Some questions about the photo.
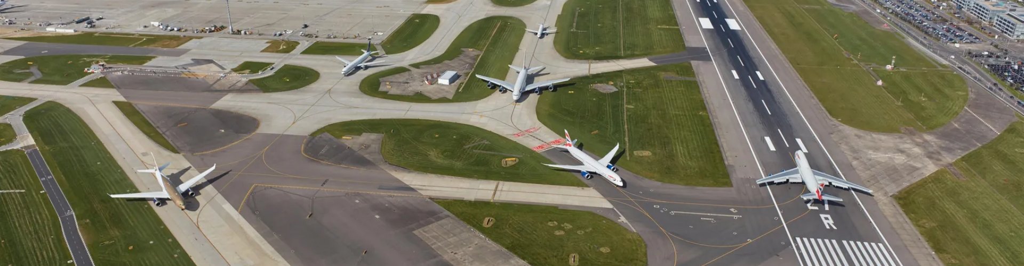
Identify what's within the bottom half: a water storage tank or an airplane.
airplane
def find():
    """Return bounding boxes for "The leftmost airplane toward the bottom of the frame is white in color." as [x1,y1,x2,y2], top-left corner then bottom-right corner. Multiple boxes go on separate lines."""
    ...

[107,152,215,210]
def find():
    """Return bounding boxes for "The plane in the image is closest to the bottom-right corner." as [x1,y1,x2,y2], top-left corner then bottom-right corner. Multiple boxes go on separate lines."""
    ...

[758,150,874,202]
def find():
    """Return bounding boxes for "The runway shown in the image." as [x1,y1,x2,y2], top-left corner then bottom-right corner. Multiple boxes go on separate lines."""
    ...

[687,0,904,266]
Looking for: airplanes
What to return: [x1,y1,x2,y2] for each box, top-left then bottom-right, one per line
[336,40,384,75]
[525,21,556,37]
[758,150,874,202]
[476,49,570,102]
[542,129,623,186]
[107,152,215,210]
